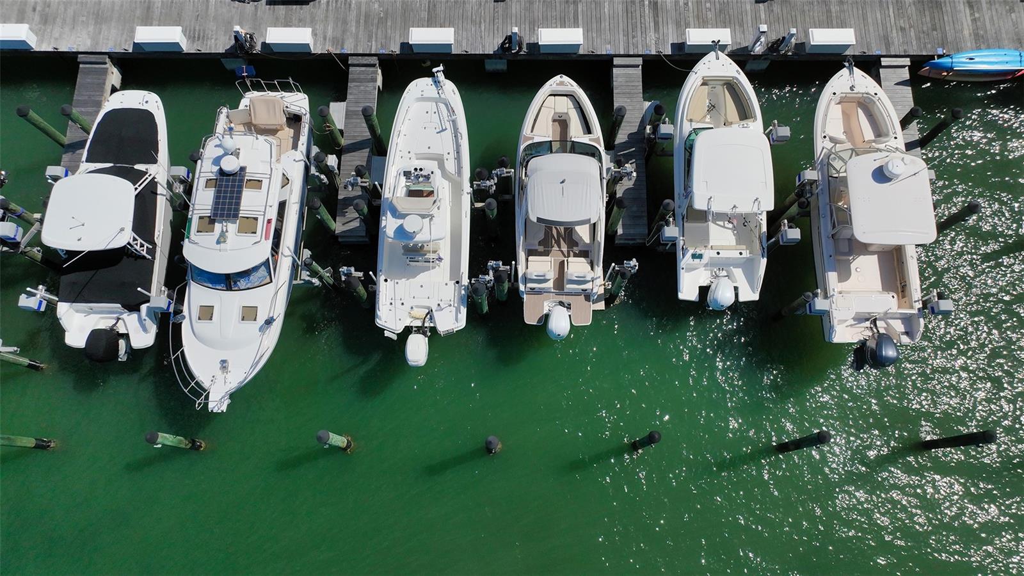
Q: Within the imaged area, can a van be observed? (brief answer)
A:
No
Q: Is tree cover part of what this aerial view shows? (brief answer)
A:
No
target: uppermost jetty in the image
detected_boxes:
[0,0,1024,60]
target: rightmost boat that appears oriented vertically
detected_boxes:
[808,51,955,373]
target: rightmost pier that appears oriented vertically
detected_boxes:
[879,58,924,162]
